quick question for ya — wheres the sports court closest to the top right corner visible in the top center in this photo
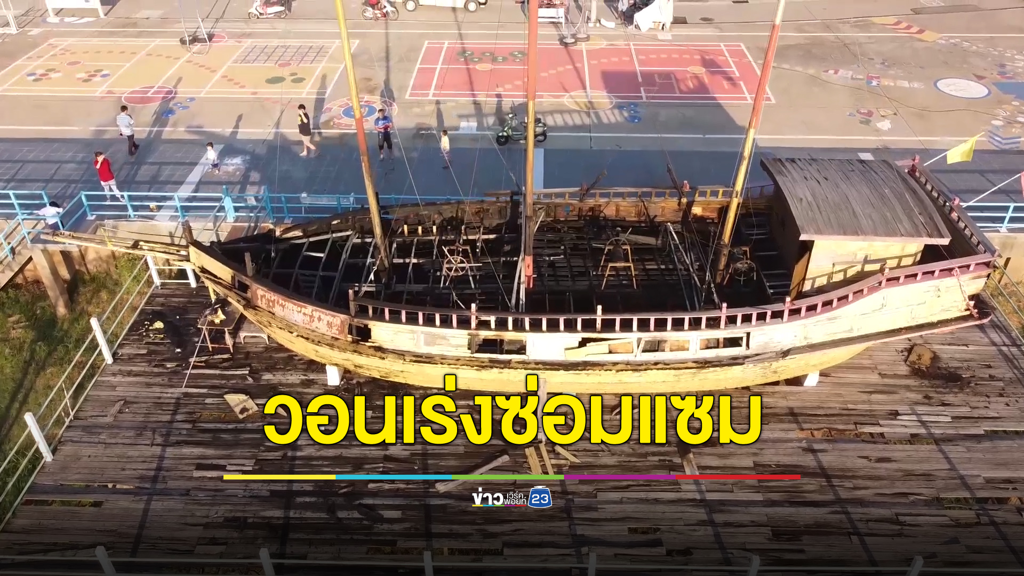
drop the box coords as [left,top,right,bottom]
[406,35,775,112]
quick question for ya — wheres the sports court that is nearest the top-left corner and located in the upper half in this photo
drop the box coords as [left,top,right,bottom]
[0,32,357,107]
